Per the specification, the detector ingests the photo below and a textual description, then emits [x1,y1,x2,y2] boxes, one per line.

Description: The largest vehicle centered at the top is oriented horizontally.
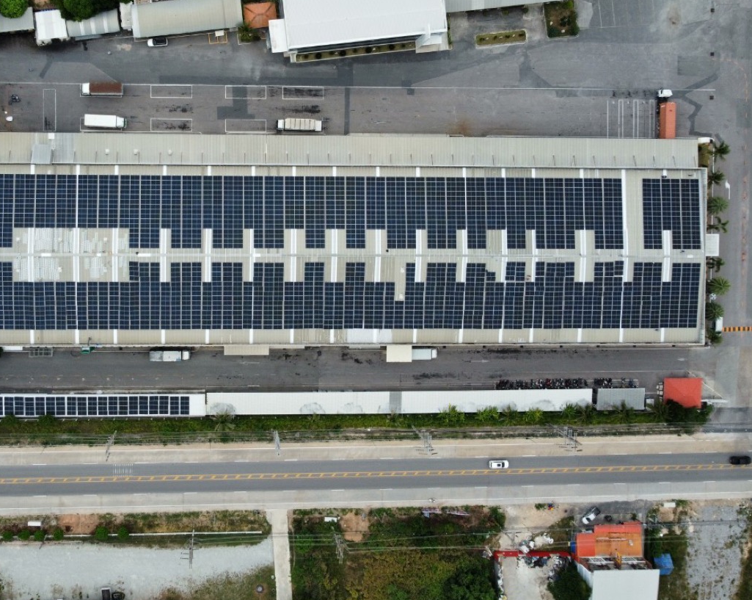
[277,119,323,131]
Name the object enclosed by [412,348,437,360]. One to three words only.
vehicle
